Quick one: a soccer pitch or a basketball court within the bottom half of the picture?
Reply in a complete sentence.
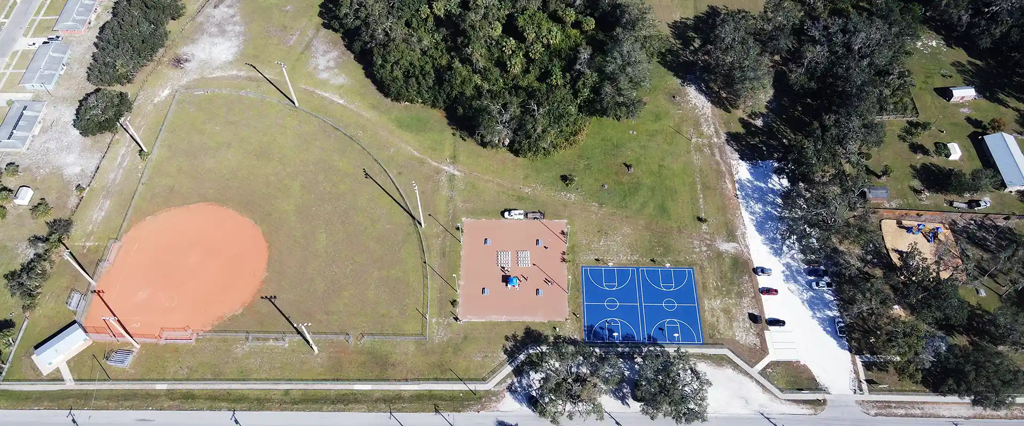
There is a basketball court within the bottom half of the picture.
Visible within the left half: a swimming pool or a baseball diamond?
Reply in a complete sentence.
Visible within the left half is a baseball diamond.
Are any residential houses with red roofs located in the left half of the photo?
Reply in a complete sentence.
No, there's no residential house with a red roof to be seen in the left half of the photo.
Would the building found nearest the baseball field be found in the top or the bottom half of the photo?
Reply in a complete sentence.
The building found nearest the baseball field is in the bottom half of the image.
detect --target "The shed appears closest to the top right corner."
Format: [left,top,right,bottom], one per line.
[948,89,979,105]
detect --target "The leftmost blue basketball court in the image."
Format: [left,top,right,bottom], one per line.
[583,267,646,345]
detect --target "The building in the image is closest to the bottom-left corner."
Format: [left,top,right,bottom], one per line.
[31,320,92,376]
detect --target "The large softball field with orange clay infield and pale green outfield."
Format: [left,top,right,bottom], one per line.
[84,91,427,343]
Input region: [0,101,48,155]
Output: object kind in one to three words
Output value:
house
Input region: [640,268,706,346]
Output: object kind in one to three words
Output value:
basketball court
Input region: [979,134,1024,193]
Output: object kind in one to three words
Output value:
barn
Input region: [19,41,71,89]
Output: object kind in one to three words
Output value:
house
